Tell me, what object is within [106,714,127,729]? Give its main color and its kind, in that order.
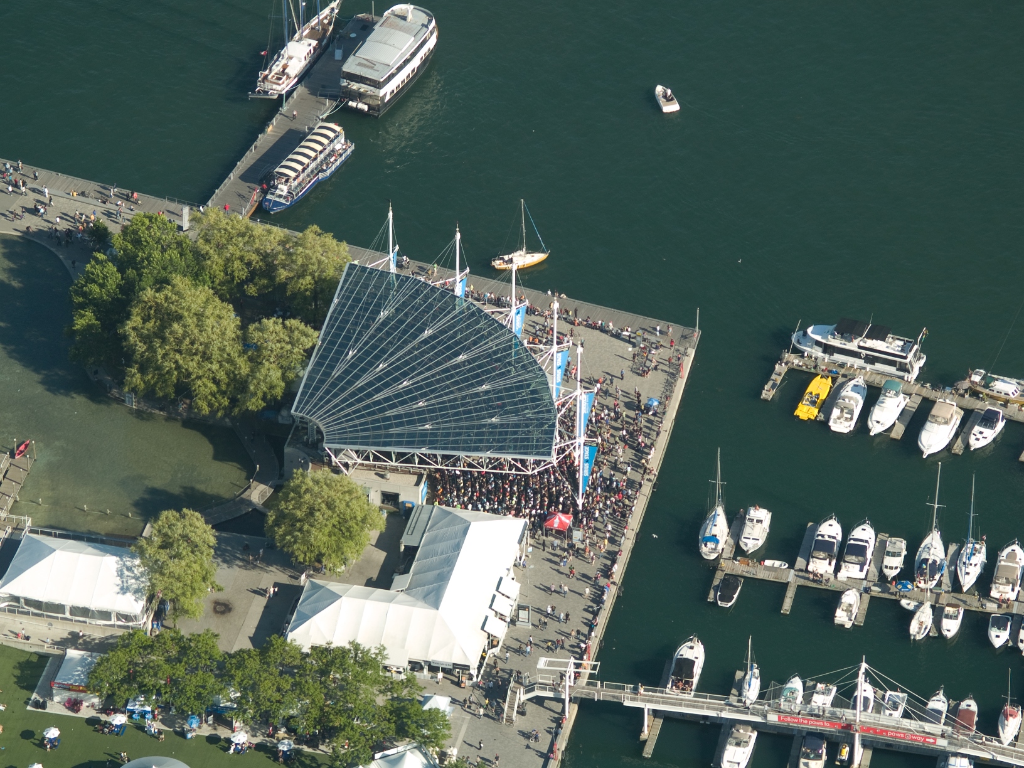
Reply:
white umbrella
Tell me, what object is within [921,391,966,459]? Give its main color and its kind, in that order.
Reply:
white boat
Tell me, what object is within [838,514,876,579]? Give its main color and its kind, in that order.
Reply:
white boat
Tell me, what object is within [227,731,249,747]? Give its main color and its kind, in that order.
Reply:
white umbrella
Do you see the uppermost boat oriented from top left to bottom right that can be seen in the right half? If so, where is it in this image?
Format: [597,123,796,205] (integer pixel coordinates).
[656,81,679,116]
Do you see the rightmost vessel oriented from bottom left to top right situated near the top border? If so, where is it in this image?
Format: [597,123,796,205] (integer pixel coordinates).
[337,4,432,120]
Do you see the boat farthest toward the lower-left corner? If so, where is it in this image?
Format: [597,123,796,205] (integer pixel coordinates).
[15,436,30,458]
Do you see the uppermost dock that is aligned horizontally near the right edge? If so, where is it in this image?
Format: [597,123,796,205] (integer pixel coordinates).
[762,354,1024,466]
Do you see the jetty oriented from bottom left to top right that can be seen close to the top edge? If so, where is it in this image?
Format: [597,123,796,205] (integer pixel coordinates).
[207,5,389,217]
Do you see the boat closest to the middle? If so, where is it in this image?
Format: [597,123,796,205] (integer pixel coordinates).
[491,202,550,273]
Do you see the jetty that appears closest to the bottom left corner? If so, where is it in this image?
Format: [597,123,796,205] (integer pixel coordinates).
[0,435,37,516]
